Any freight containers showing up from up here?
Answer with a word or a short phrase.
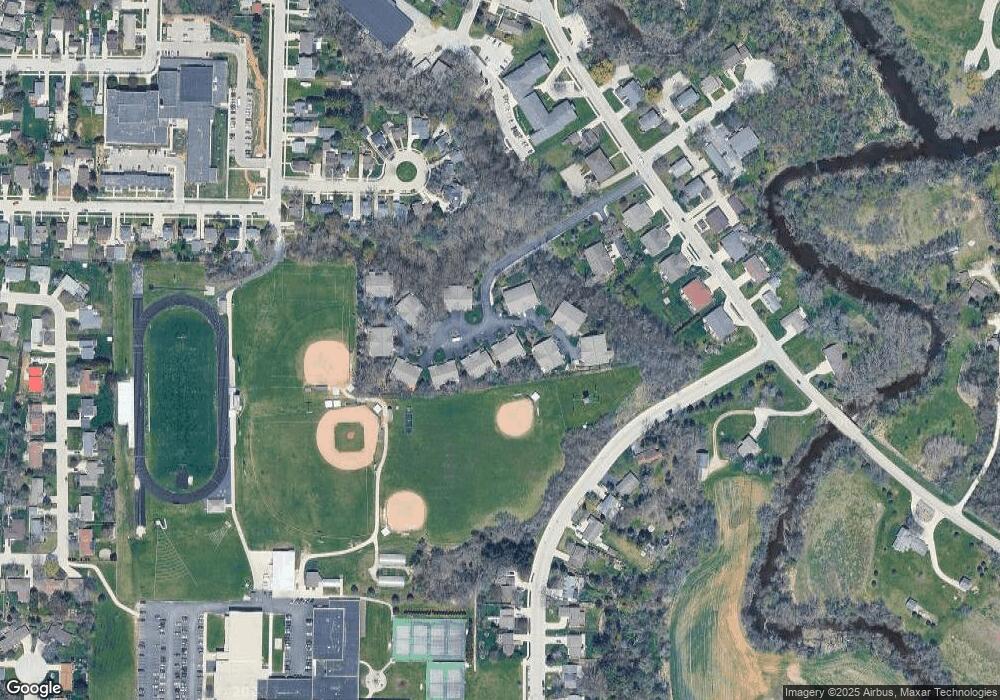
No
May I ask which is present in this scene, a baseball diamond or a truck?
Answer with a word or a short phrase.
baseball diamond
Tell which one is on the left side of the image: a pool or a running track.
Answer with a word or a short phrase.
running track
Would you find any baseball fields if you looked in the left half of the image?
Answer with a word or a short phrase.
Yes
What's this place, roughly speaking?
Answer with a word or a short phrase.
residential area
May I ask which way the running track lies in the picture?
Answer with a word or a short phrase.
up and down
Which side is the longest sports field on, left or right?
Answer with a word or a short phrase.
left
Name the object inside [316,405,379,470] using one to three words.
baseball field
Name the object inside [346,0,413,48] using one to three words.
building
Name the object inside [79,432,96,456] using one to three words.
house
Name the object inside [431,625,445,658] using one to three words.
tennis court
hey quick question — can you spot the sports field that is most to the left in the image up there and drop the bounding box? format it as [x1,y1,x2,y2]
[145,305,217,493]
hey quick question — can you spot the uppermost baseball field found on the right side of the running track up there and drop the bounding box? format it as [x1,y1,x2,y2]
[304,341,350,391]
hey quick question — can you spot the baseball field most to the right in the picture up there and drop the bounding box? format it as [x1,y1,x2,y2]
[496,398,533,437]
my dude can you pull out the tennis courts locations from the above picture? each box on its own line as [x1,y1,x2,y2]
[449,624,464,659]
[431,625,445,658]
[397,626,410,657]
[430,669,443,700]
[414,626,427,657]
[447,669,460,700]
